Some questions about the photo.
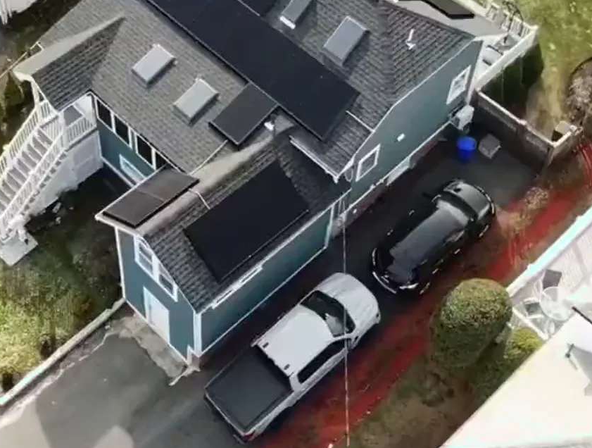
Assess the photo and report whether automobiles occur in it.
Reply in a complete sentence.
Yes, the photo shows an automobile.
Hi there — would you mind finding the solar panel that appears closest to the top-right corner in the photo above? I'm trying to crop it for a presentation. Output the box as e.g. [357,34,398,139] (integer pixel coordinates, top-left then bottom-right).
[424,0,471,19]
